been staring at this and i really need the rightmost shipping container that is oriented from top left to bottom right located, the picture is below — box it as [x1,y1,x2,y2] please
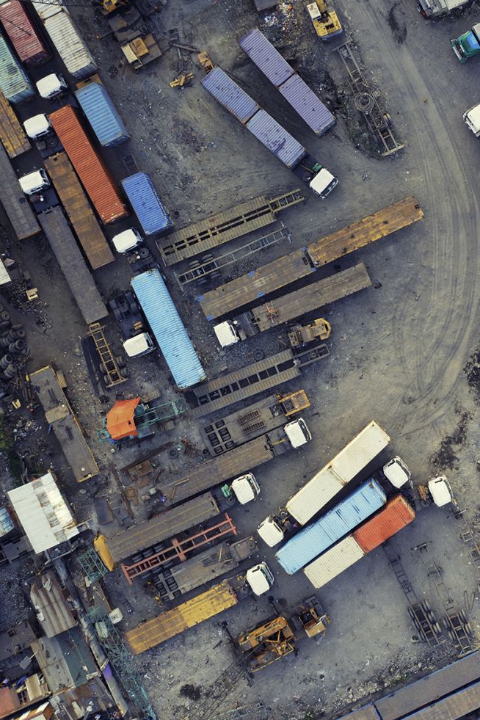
[280,73,337,139]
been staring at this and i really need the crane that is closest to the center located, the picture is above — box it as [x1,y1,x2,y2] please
[97,397,190,444]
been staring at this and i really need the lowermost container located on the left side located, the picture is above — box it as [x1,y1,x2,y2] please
[133,268,210,390]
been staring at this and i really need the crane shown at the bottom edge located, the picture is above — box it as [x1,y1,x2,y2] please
[176,594,326,720]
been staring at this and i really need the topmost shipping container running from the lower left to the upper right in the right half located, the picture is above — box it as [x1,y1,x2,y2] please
[331,416,391,480]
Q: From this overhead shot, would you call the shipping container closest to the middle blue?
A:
Yes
